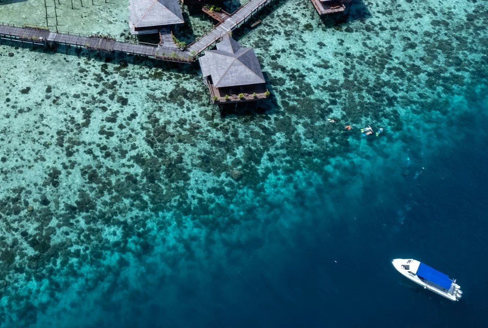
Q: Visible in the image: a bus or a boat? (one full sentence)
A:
The one in the frame is a boat.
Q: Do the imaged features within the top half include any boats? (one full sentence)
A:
No, there's no boat to be seen within the top half.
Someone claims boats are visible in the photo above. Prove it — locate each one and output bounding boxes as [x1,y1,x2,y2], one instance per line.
[391,258,465,302]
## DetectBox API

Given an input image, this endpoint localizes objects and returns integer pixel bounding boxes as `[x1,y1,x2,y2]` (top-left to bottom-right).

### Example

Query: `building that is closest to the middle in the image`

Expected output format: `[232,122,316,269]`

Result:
[197,28,270,118]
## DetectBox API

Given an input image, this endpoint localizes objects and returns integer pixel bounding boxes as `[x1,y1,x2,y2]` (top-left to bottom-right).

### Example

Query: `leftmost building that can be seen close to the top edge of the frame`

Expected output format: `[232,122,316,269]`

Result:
[125,0,183,40]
